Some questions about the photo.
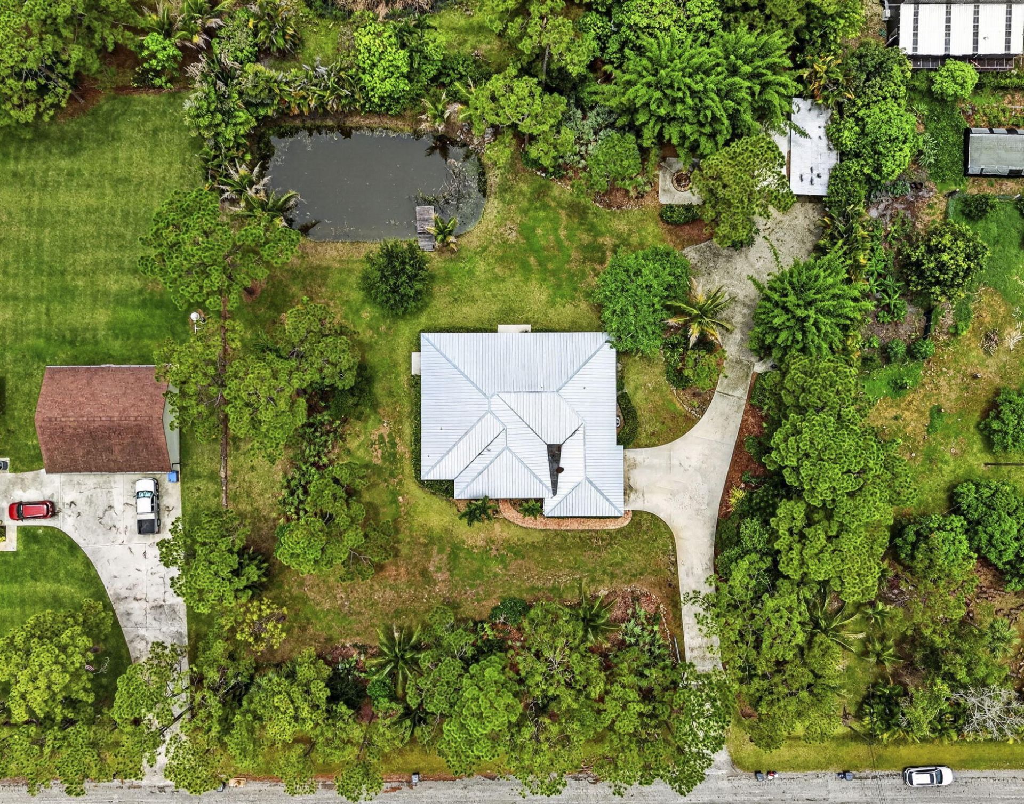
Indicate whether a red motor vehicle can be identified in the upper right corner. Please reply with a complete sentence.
No, in the upper right corner there is no red motor vehicle.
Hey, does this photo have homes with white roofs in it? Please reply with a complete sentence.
Yes, the photo shows a home with a white roof.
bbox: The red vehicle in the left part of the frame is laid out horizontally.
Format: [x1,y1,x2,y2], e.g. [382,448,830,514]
[8,499,55,521]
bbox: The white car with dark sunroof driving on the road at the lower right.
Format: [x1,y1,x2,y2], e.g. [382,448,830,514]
[902,760,952,787]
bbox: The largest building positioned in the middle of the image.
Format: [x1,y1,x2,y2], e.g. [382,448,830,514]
[420,332,624,517]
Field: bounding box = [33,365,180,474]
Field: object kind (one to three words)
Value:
building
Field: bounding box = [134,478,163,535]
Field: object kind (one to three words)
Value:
truck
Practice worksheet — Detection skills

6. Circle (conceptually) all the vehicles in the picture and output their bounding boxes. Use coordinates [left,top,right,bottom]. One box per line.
[902,760,952,787]
[8,499,55,521]
[134,478,163,535]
